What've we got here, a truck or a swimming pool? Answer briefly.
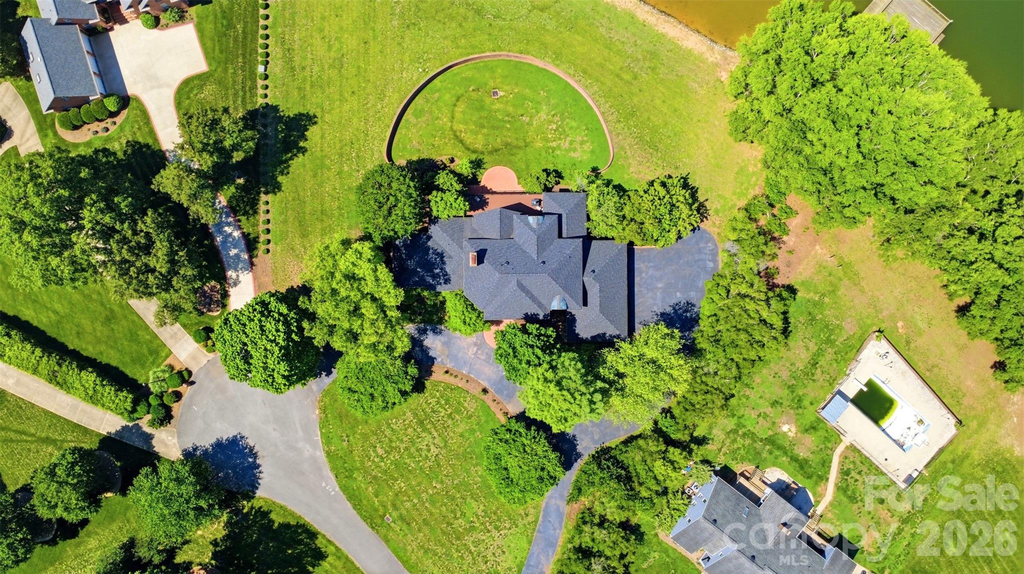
swimming pool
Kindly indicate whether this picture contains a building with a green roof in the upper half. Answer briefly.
No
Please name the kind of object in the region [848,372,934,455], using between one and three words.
swimming pool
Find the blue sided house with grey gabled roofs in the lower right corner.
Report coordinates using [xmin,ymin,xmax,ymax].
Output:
[670,477,858,574]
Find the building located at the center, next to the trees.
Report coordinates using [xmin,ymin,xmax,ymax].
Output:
[393,192,627,342]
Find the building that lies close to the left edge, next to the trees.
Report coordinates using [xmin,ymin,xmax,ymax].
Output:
[20,0,203,116]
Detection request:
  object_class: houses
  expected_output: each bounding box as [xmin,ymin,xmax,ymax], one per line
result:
[670,477,858,574]
[393,192,627,342]
[20,0,203,116]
